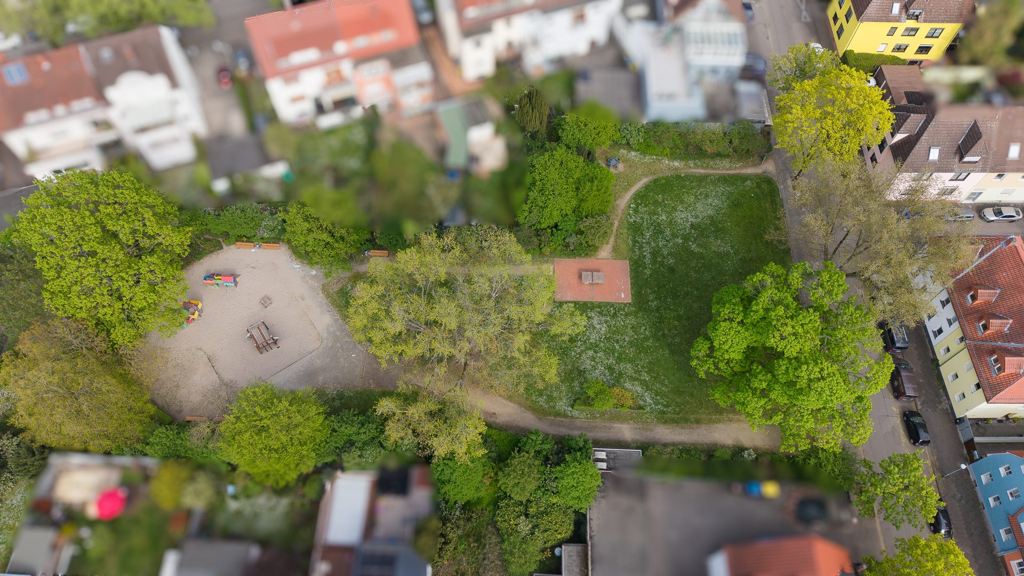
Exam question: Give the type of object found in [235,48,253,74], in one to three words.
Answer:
car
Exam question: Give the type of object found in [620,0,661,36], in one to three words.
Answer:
building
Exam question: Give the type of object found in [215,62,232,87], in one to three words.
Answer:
car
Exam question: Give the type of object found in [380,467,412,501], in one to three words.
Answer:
shed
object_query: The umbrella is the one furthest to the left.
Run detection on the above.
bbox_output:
[83,492,113,523]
